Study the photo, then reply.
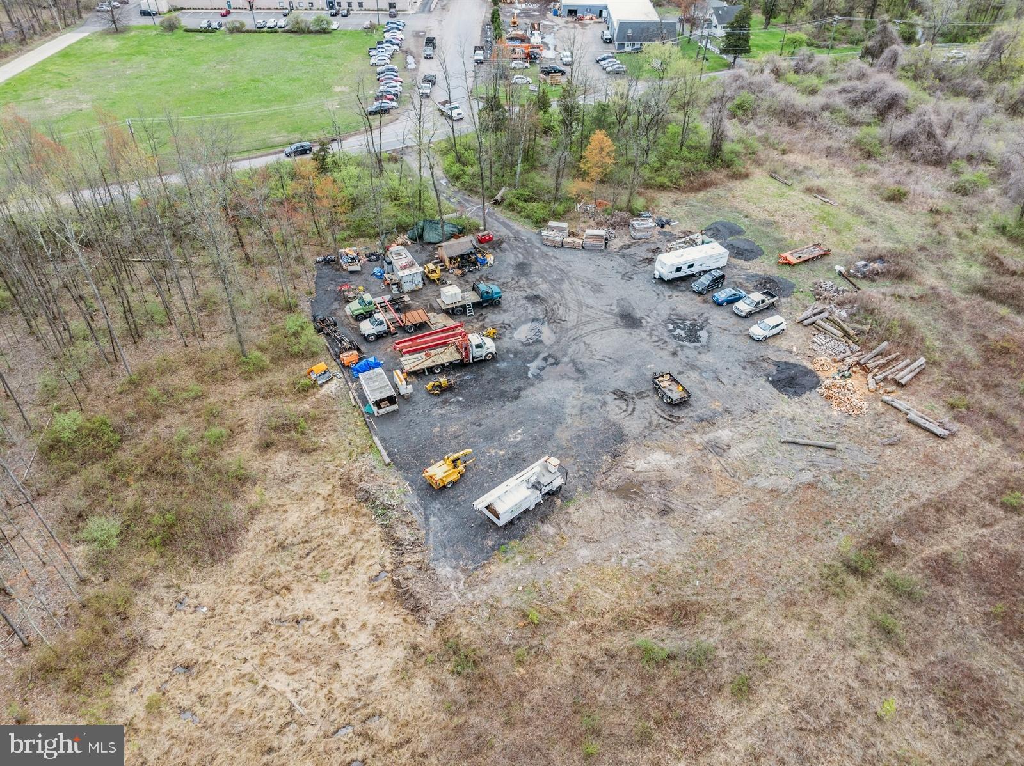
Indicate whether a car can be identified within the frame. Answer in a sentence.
Yes, the photo shows a car.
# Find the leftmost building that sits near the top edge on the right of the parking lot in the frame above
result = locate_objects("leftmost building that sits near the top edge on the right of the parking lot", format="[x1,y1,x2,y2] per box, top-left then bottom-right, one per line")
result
[558,0,678,50]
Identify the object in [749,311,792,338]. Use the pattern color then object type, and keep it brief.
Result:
white car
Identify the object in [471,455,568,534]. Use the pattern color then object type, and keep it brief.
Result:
white truck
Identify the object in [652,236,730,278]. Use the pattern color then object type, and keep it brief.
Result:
white vehicle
